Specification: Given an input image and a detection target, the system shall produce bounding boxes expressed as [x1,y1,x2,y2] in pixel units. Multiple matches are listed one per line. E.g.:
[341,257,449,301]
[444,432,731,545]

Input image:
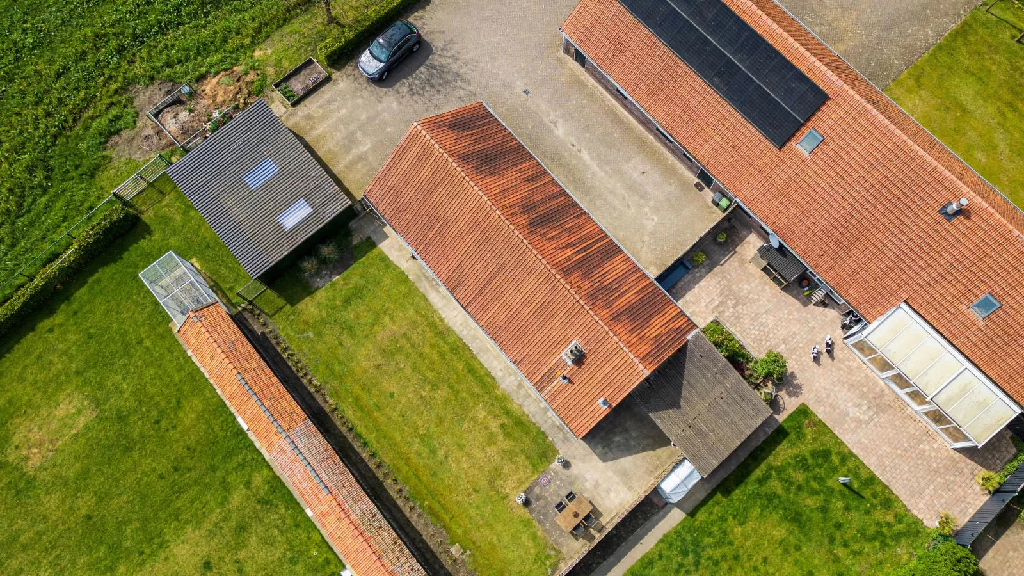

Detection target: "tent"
[652,460,704,509]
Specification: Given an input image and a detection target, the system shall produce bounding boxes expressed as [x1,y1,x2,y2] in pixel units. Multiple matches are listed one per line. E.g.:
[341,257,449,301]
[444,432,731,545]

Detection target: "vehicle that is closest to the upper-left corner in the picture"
[360,22,426,82]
